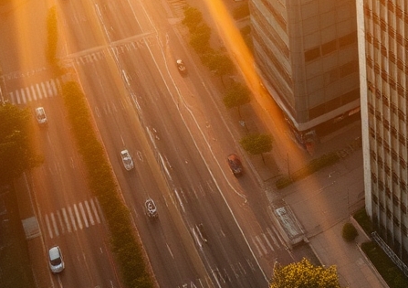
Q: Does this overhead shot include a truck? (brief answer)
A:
No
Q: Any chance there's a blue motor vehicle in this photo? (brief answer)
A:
No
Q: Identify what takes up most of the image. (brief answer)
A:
paved ground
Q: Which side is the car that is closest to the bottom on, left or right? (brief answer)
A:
left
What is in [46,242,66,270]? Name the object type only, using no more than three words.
car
